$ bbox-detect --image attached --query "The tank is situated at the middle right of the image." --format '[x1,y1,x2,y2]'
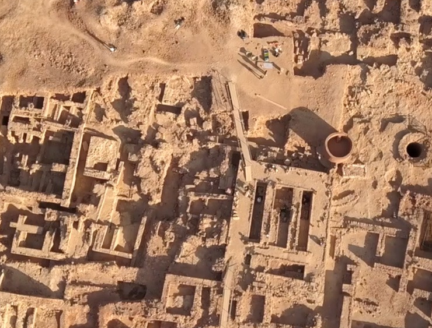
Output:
[324,137,352,165]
